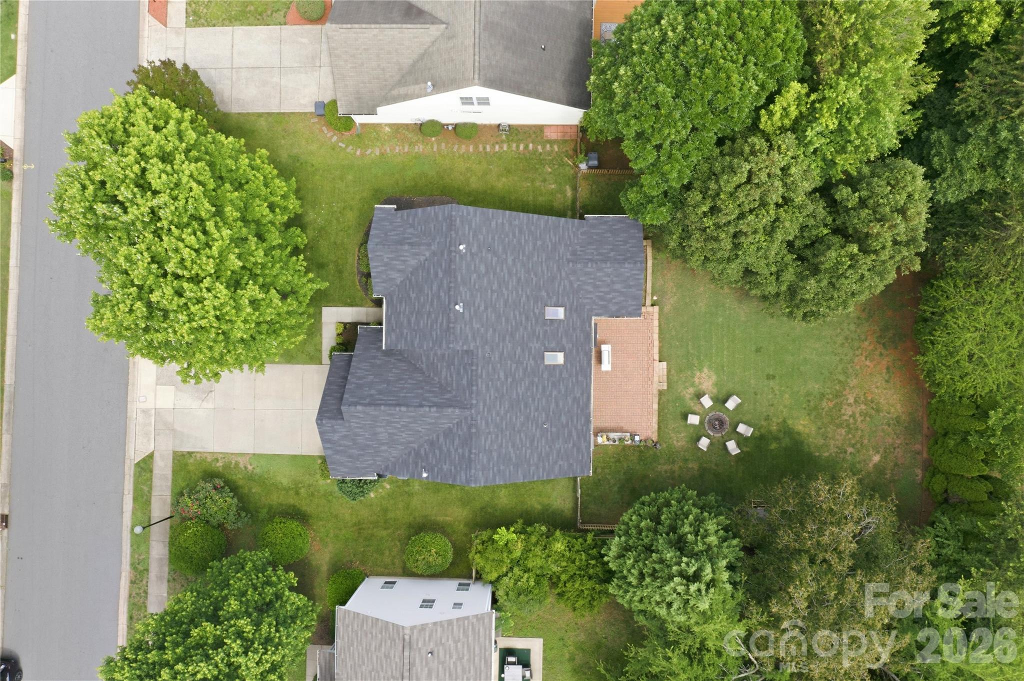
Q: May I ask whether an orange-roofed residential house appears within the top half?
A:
No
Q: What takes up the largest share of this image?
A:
trees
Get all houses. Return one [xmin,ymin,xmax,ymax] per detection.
[328,0,593,142]
[315,579,496,681]
[318,204,645,485]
